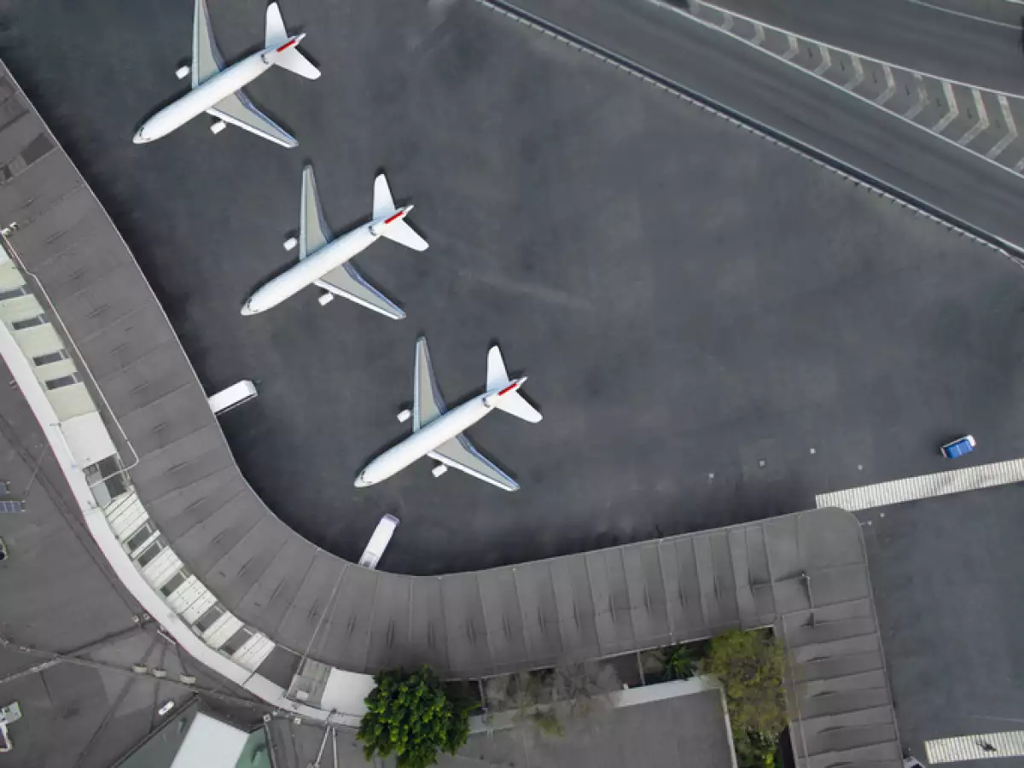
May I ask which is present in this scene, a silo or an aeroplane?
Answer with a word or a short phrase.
aeroplane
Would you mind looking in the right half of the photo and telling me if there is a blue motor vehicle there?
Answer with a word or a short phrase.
Yes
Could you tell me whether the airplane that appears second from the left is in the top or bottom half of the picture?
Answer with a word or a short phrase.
top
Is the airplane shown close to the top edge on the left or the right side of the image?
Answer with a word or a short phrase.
left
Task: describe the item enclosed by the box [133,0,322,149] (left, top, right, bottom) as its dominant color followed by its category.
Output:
white airplane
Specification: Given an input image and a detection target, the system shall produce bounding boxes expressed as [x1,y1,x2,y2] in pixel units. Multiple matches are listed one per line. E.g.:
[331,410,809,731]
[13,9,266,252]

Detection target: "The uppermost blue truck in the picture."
[938,436,976,460]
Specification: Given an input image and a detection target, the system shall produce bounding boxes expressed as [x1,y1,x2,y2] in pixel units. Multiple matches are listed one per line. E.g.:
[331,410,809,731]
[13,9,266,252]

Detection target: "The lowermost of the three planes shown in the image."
[355,334,545,491]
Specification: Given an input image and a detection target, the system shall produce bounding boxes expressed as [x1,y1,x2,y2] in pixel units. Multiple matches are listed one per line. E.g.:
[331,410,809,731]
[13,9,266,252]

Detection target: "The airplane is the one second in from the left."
[241,163,431,320]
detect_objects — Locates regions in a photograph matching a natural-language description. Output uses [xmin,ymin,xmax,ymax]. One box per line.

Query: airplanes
[133,0,322,149]
[241,163,431,320]
[355,334,545,491]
